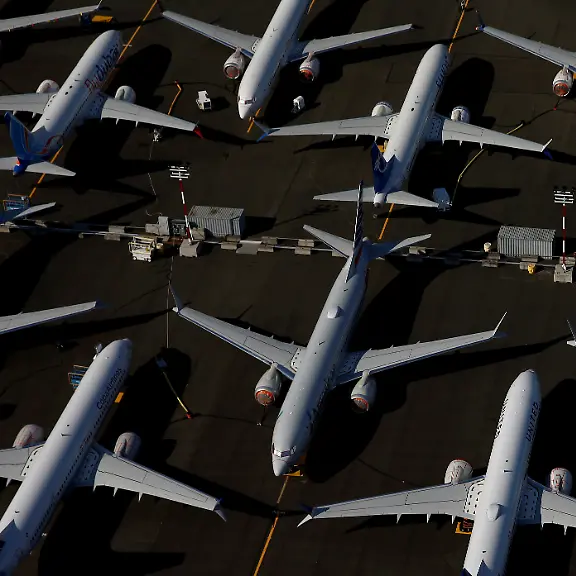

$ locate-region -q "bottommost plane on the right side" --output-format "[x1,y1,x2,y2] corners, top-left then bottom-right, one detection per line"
[297,372,576,576]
